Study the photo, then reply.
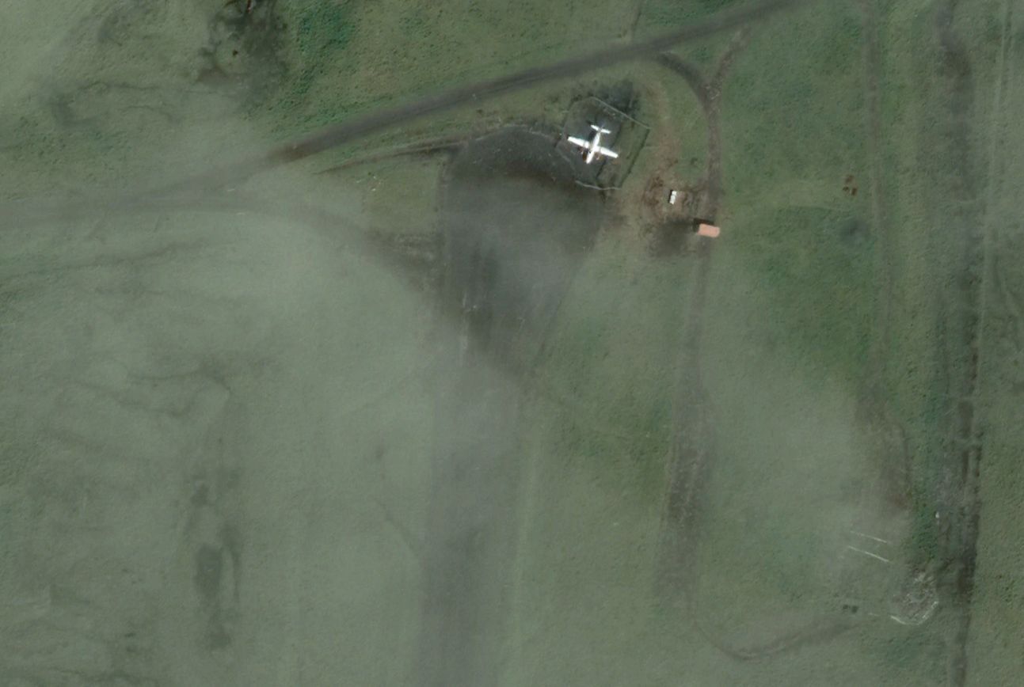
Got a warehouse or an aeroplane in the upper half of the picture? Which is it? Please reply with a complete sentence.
The one visible in the upper half of the picture is an aeroplane.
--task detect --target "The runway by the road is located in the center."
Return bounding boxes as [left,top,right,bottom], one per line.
[413,96,619,687]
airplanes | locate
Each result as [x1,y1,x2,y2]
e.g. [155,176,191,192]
[569,124,618,164]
